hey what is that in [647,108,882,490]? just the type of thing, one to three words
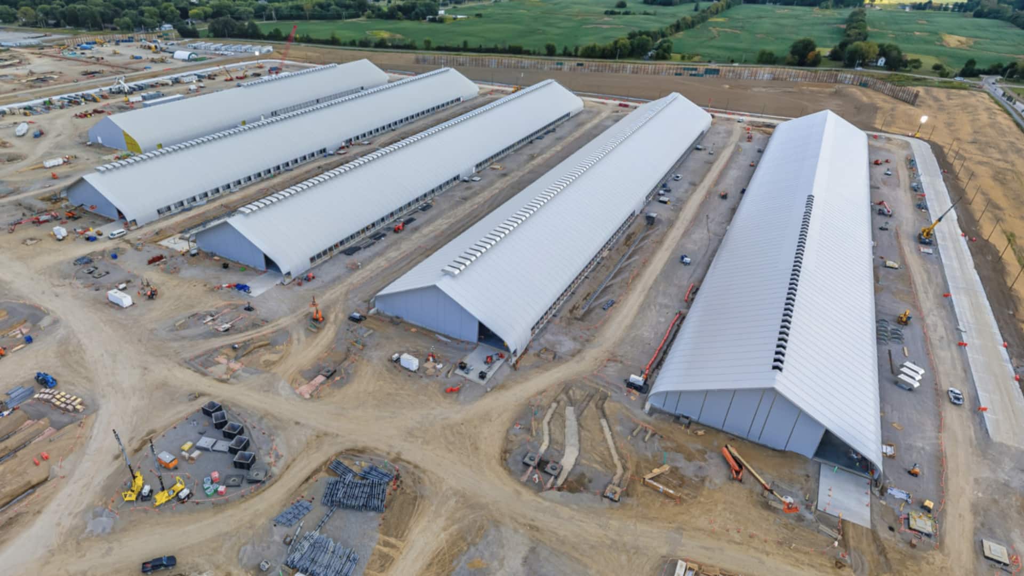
building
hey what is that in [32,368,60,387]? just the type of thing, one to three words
work vehicle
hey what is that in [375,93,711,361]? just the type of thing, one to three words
building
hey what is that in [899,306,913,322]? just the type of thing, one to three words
work vehicle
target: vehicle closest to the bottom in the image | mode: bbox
[137,554,177,572]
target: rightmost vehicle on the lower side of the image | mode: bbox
[948,385,966,403]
